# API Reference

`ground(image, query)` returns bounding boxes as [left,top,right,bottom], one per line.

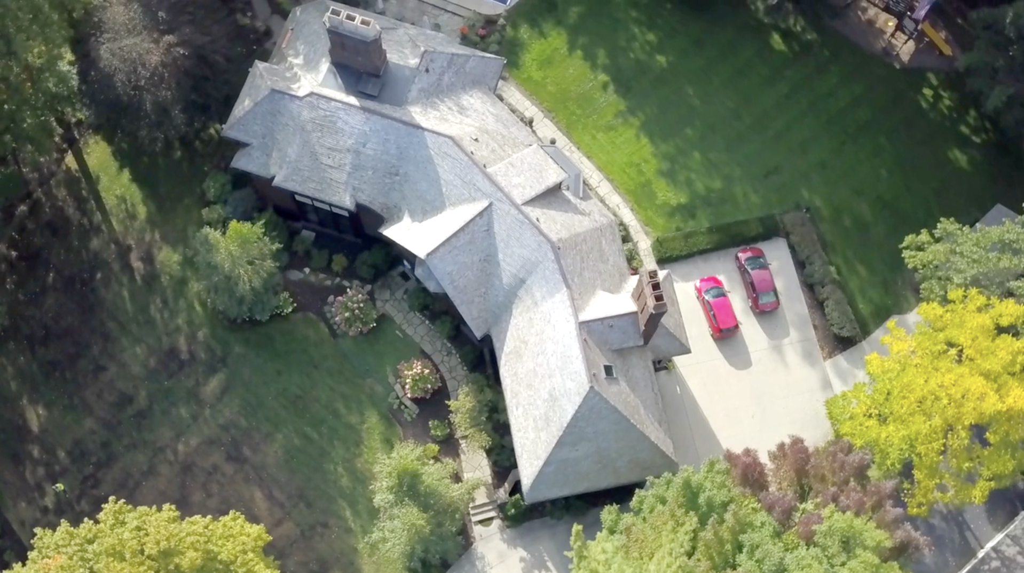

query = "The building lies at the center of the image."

[221,0,691,505]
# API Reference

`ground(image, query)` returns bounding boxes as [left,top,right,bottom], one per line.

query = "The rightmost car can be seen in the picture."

[737,248,780,312]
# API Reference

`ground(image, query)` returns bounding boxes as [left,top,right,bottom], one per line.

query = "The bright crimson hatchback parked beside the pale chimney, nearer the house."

[696,276,739,337]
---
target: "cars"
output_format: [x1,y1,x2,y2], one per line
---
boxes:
[696,276,739,337]
[737,248,780,312]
